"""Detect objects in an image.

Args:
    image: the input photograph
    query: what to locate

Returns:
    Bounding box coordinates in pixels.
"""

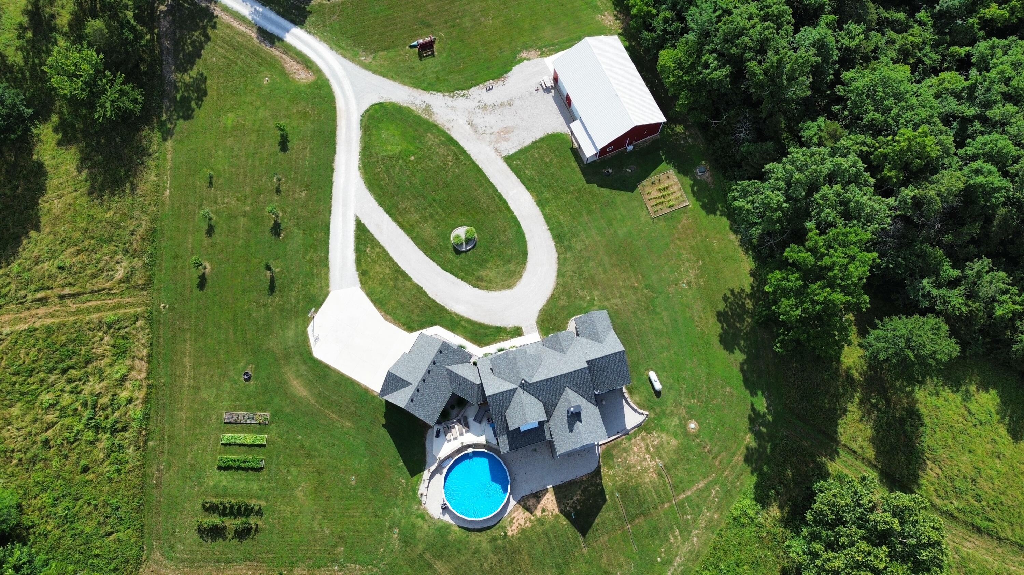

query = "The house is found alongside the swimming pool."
[379,310,631,458]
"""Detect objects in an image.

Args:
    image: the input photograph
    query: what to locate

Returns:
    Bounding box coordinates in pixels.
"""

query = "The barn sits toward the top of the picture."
[552,35,666,168]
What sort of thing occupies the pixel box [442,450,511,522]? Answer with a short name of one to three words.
swimming pool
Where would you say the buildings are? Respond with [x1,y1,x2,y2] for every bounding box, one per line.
[379,310,631,458]
[552,35,666,168]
